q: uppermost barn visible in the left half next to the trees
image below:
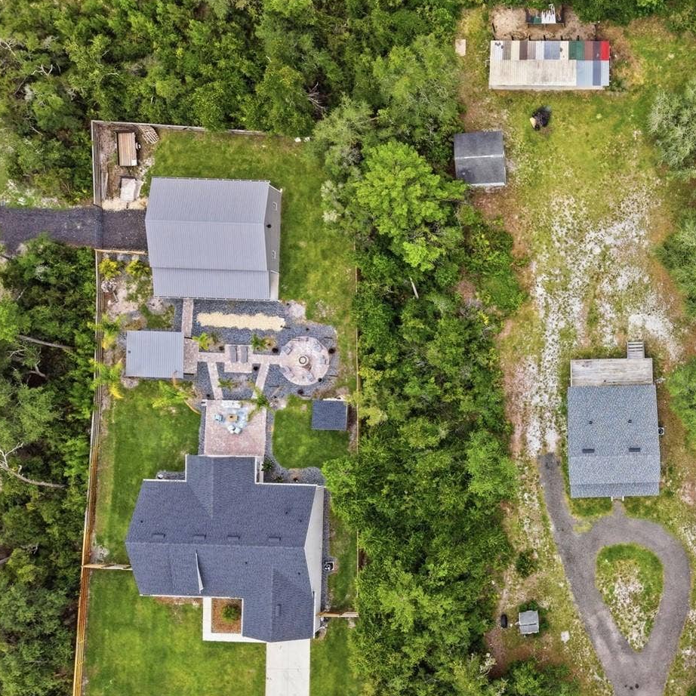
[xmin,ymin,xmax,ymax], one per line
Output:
[145,177,281,302]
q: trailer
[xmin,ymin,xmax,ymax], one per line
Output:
[114,132,143,176]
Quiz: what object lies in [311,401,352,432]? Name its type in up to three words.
shed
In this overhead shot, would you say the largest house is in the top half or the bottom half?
bottom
